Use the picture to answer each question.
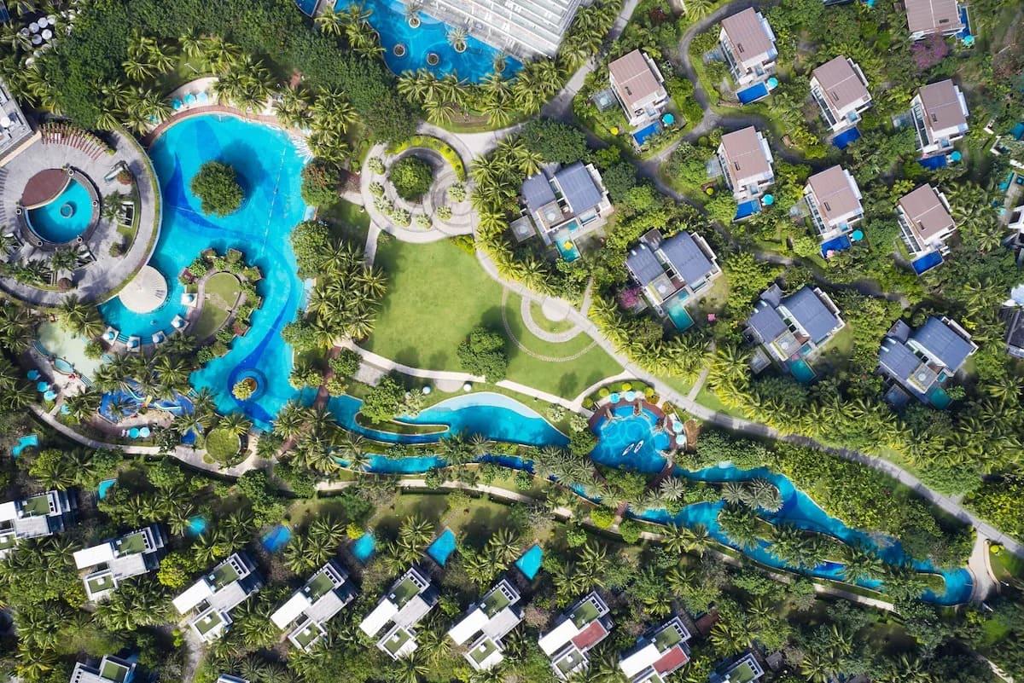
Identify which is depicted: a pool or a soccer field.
pool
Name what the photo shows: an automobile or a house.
house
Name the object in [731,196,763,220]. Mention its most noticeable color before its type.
blue swimming pool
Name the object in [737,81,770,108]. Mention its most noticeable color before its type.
blue swimming pool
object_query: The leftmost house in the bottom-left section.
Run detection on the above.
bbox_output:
[0,486,80,552]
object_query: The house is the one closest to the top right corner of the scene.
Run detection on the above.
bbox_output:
[890,0,964,48]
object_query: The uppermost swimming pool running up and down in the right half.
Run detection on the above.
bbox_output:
[954,6,969,41]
